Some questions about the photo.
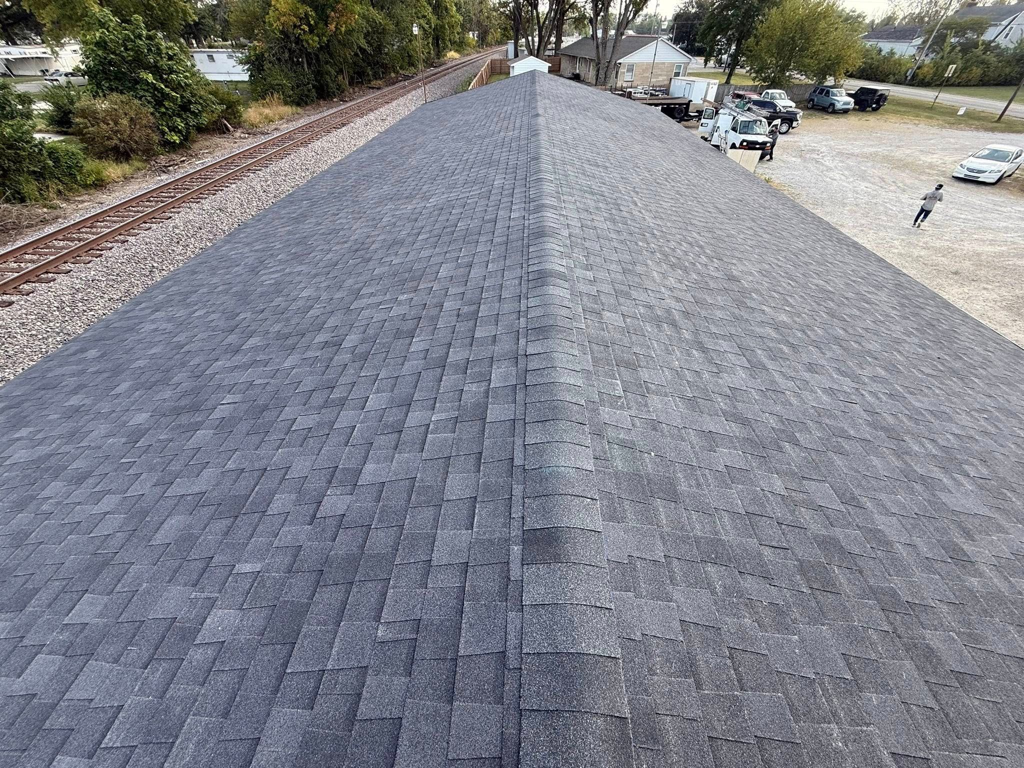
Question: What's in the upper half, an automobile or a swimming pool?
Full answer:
There is an automobile in the upper half.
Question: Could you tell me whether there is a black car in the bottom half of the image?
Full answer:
No, the scene shows no black car in the bottom half of the image.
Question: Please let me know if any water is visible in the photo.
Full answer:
No, the picture contains no water.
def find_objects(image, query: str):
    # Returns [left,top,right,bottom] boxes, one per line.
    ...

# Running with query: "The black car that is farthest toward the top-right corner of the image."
[848,85,889,110]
